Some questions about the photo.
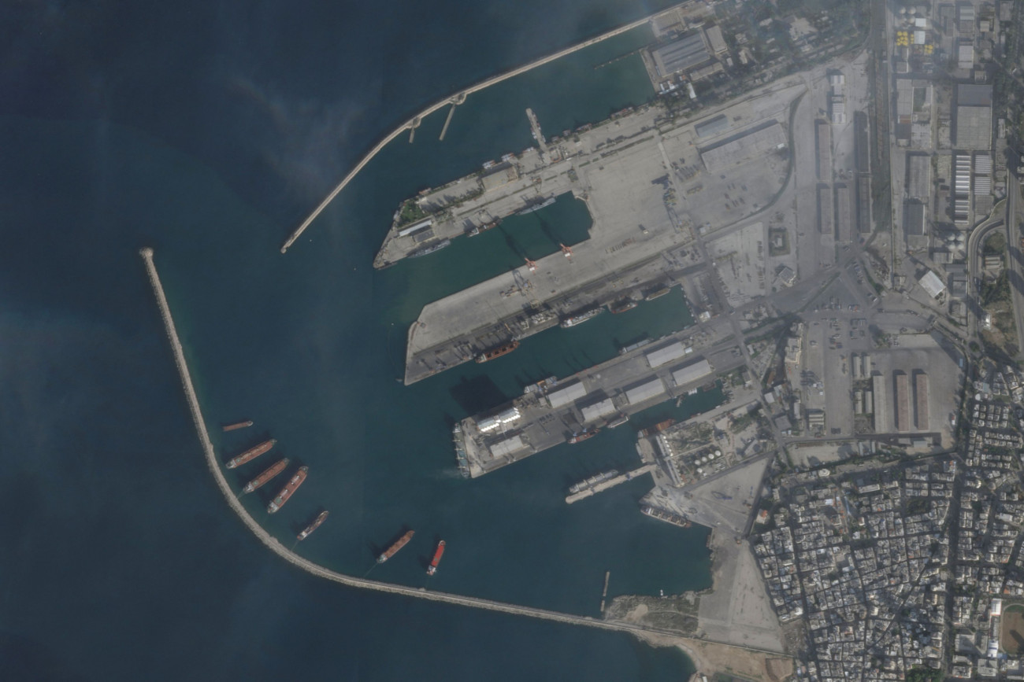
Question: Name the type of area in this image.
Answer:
port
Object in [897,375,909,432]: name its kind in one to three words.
building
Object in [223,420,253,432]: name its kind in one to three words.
ship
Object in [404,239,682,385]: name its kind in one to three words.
pier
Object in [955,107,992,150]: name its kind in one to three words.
building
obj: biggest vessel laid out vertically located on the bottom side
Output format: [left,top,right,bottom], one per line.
[454,423,469,478]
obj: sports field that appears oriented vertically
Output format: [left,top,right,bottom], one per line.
[1001,600,1024,660]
